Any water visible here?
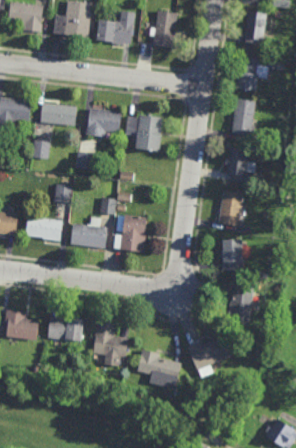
No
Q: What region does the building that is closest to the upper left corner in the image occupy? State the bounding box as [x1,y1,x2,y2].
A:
[10,0,43,32]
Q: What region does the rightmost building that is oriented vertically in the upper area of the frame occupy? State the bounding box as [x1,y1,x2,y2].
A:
[252,10,268,40]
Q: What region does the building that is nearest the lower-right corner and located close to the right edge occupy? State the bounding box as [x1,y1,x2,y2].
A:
[274,424,296,448]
